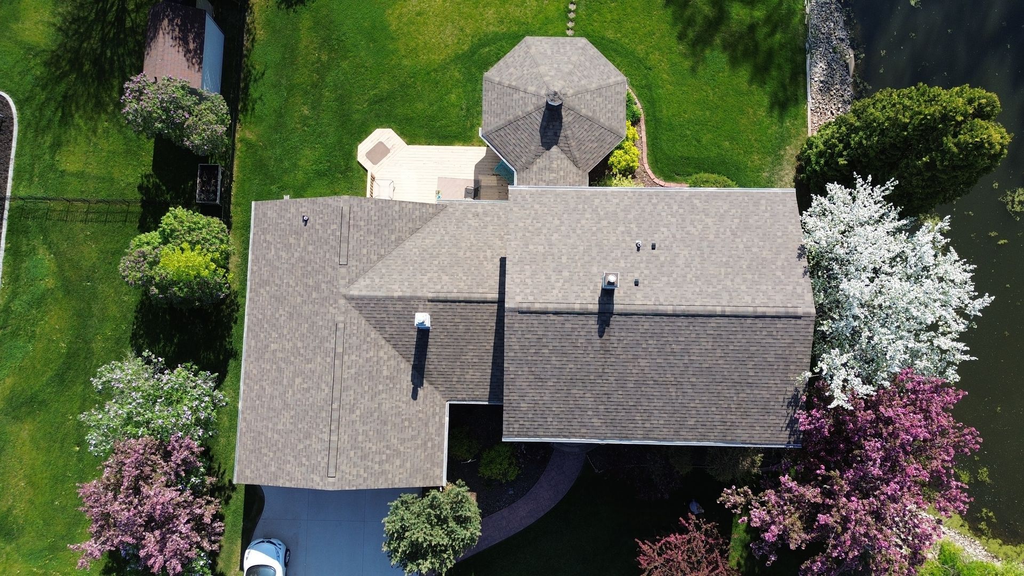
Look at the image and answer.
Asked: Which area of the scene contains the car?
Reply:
bottom left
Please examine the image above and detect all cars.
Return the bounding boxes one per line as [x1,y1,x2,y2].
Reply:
[241,538,291,576]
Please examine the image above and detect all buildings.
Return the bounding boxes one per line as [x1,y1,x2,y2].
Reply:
[231,182,816,490]
[146,0,224,109]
